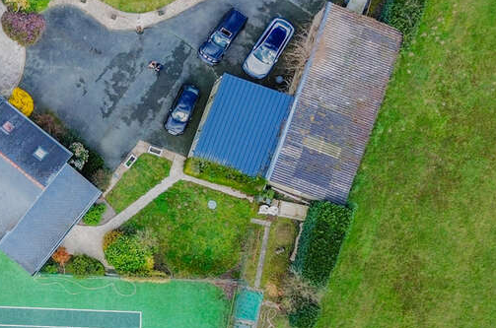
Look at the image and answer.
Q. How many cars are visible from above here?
3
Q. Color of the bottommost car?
blue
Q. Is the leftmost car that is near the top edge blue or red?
blue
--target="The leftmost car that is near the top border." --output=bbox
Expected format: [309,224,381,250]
[195,6,250,68]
